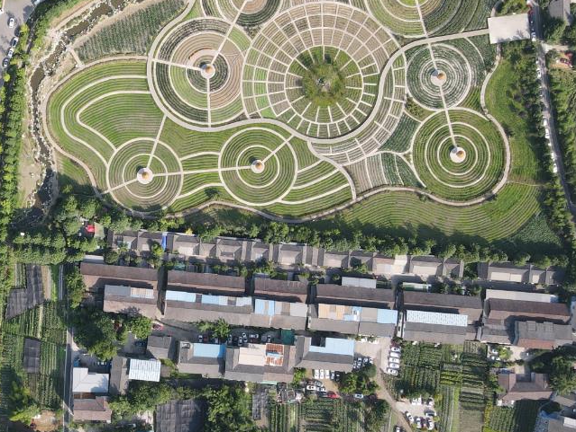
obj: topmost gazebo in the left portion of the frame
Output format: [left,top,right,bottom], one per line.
[200,62,216,77]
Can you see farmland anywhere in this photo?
Yes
